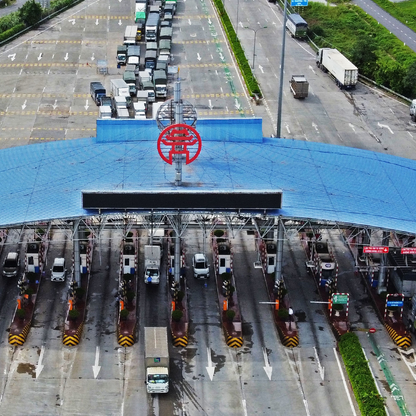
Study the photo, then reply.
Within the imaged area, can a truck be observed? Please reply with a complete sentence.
Yes, the photo shows a truck.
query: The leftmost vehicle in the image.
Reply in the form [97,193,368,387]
[1,246,23,275]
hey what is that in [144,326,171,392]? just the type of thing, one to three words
truck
